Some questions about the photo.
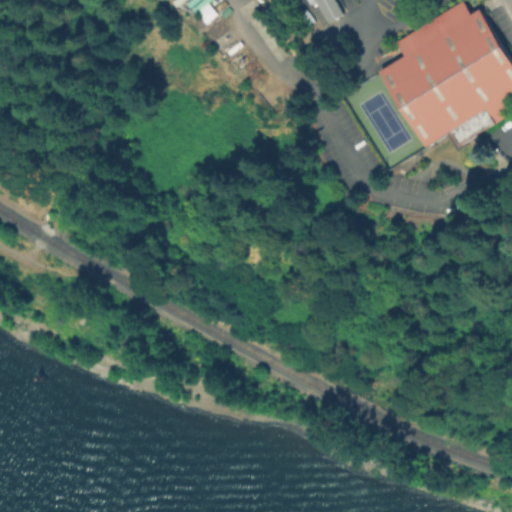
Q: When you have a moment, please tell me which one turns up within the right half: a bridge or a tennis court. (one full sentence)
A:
The feature located within the right half is a tennis court.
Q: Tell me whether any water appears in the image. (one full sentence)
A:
Yes, there's water in this view.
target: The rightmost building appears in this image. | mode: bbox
[378,2,512,147]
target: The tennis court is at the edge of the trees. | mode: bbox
[347,76,424,169]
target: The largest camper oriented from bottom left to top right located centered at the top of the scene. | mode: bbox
[228,42,245,55]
